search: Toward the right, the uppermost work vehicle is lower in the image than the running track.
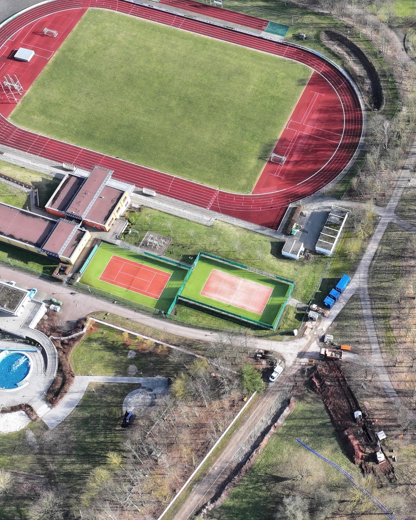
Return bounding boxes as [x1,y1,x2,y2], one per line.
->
[311,301,328,314]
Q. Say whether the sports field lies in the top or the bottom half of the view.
top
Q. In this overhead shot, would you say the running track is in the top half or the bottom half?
top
